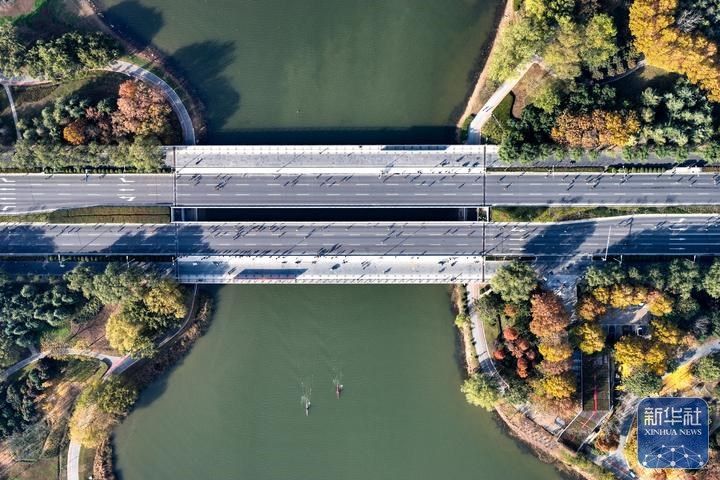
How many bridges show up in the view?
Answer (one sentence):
Looking from above, you can make out 2 bridges.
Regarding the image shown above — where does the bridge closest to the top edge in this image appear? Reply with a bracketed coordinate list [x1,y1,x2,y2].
[172,145,488,208]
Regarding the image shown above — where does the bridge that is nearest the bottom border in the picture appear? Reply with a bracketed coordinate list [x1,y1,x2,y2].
[172,221,488,284]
